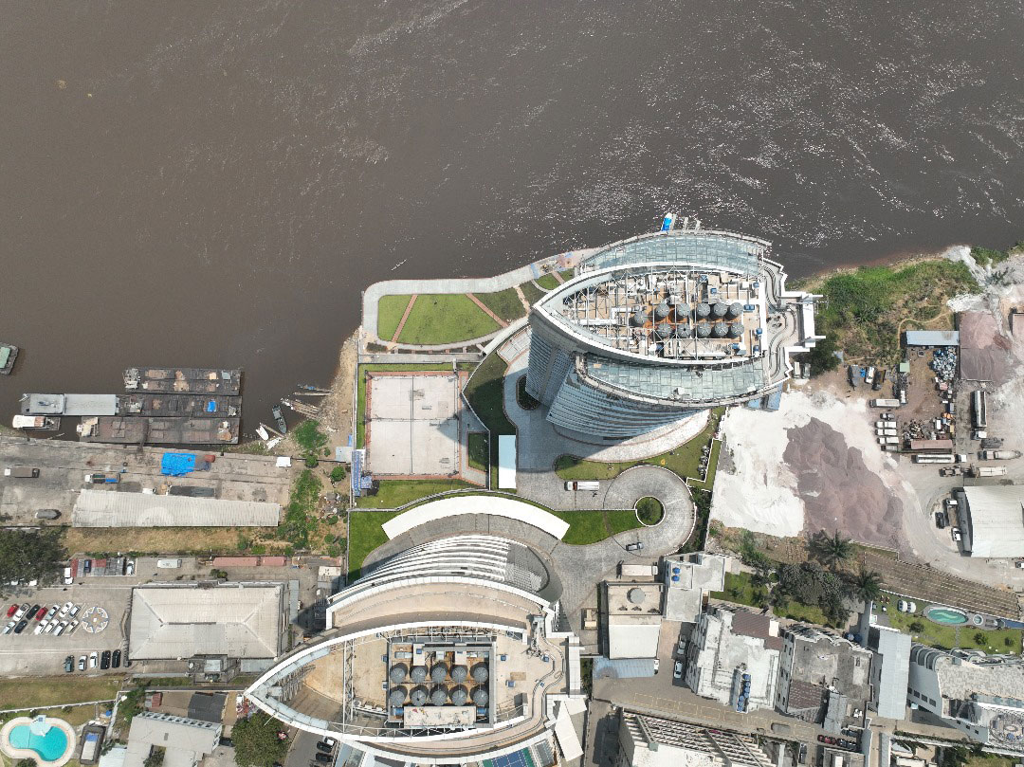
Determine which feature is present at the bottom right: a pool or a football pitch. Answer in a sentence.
What appears at the bottom right is a pool.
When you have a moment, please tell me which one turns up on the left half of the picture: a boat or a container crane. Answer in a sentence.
The feature located on the left half of the picture is a boat.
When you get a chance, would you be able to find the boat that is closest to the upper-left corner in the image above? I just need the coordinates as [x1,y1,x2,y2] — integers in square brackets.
[0,343,21,375]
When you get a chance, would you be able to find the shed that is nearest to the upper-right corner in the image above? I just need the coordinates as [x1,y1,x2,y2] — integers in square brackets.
[900,330,959,348]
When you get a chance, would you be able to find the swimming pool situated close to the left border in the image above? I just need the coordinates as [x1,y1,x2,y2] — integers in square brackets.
[1,715,75,767]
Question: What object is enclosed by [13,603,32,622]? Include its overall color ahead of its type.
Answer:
white vehicle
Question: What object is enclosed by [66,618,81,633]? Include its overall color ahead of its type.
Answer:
white car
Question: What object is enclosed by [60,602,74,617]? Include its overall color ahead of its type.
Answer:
white car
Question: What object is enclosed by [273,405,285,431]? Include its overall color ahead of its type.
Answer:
gray boat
